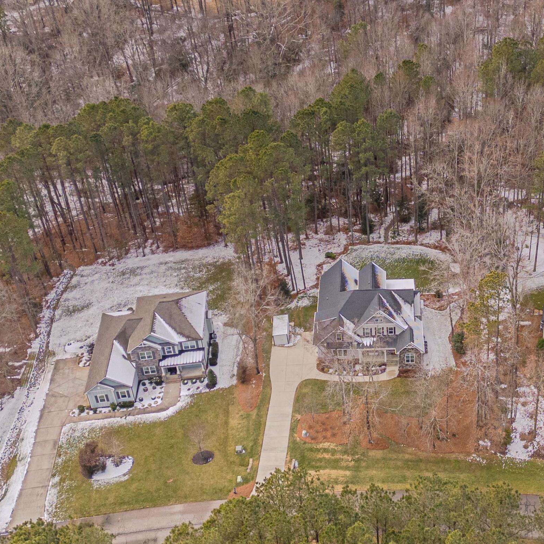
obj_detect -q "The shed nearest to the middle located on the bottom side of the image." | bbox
[271,310,288,345]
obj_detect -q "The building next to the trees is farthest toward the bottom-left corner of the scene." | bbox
[84,290,214,408]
